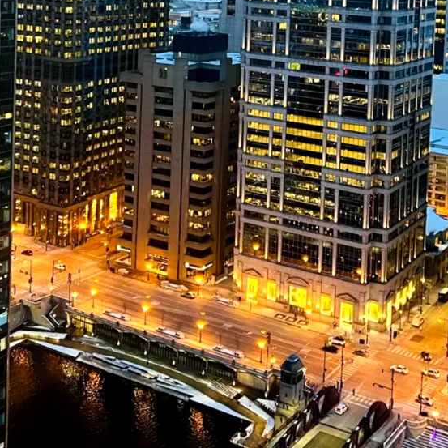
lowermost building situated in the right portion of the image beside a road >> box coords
[258,349,325,441]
